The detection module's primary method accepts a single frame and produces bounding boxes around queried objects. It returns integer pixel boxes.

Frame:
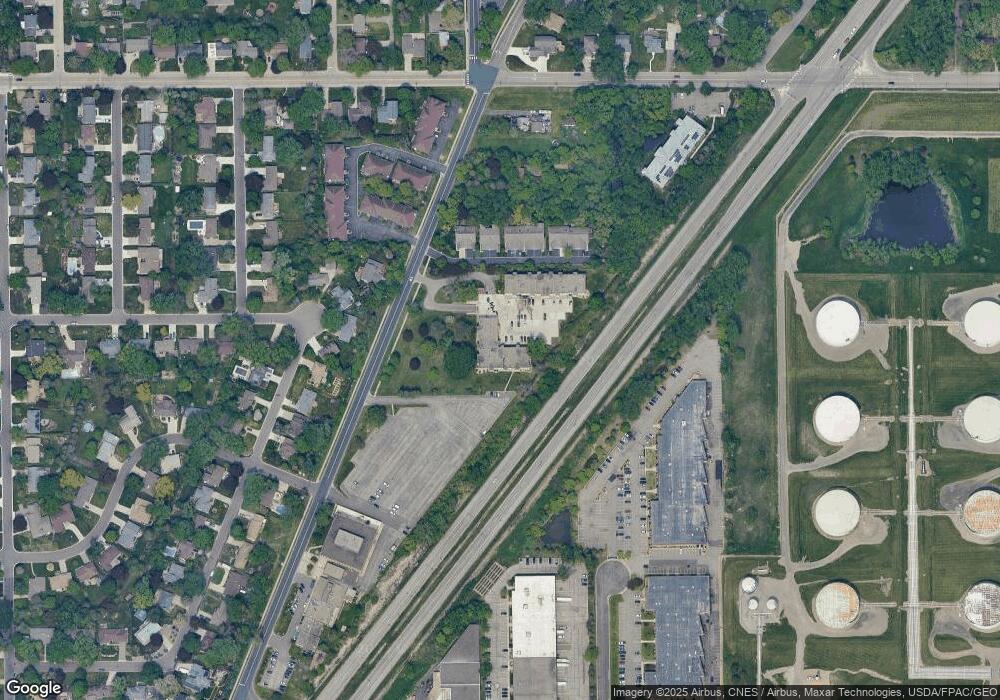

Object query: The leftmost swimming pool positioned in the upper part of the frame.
[66,257,79,274]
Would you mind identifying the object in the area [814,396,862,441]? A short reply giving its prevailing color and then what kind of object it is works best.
white storage tank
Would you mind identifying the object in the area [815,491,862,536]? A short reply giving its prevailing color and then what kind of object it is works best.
white storage tank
